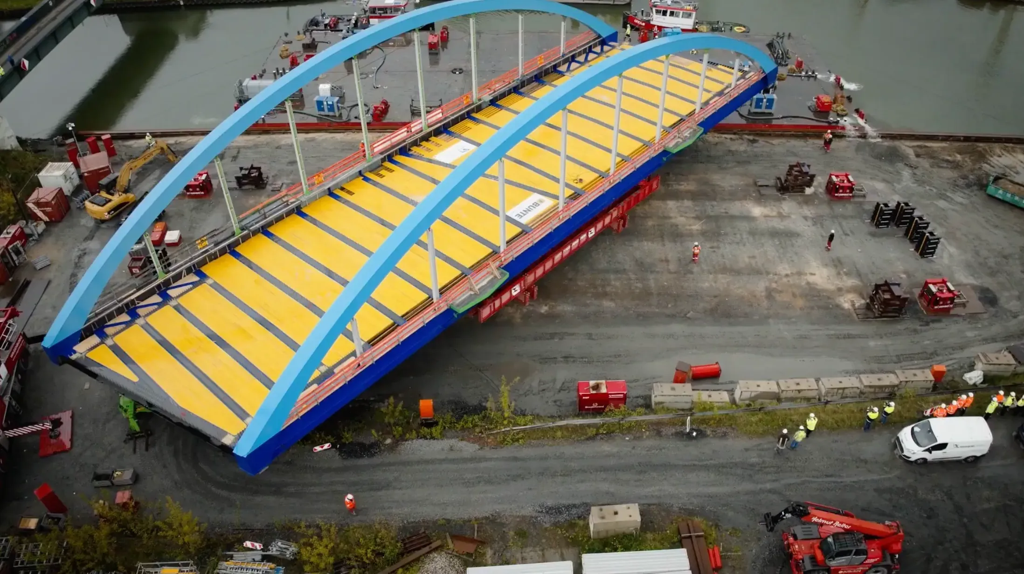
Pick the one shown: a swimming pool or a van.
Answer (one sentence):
There is a van in the scene.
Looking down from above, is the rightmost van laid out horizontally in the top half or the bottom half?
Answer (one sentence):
The rightmost van laid out horizontally sits in the bottom half of the picture.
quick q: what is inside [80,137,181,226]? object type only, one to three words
work vehicle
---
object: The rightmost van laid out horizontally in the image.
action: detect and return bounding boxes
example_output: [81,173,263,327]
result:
[893,418,996,465]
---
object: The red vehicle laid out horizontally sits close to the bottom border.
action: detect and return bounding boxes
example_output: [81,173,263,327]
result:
[762,502,916,574]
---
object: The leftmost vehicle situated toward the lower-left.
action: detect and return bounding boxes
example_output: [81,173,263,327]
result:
[104,391,155,458]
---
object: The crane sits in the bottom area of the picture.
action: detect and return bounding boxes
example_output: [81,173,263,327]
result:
[0,289,63,451]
